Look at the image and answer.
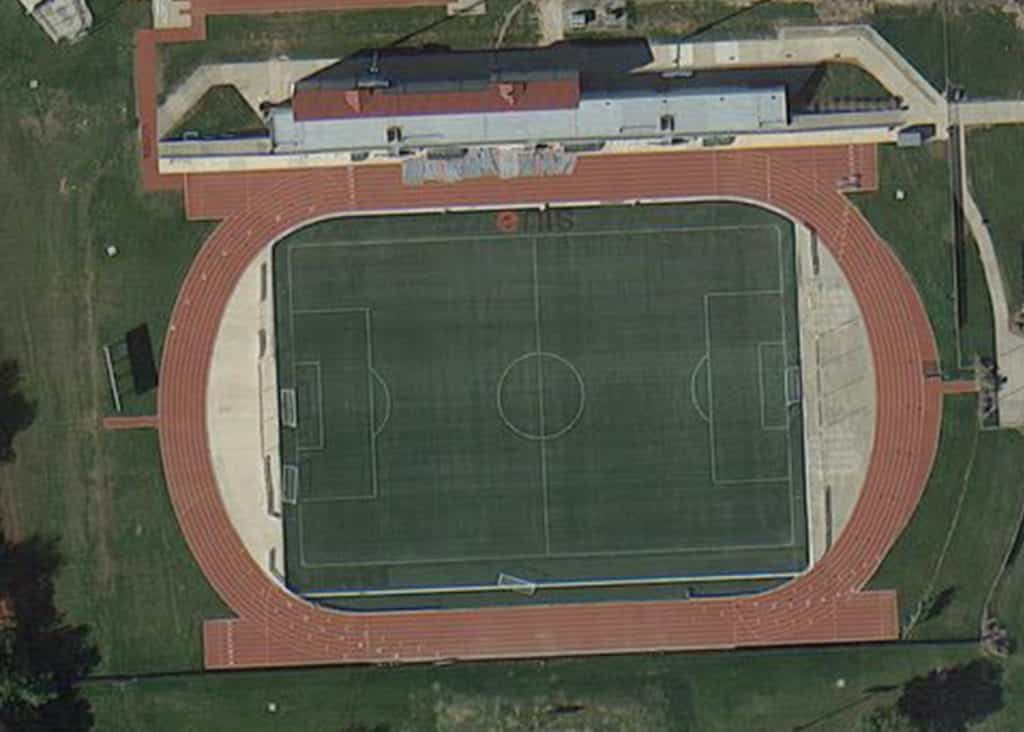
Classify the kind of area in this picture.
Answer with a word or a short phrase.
sports ground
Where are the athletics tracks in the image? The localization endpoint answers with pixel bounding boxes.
[158,146,943,669]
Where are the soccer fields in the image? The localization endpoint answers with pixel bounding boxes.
[273,199,812,613]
